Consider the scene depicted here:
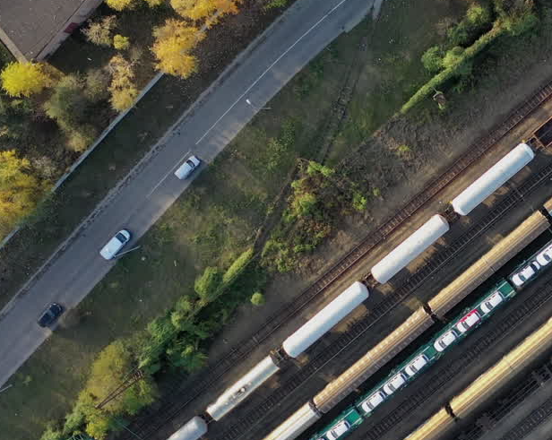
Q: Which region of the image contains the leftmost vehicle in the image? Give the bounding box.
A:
[36,302,63,328]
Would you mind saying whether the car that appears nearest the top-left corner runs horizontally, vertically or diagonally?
diagonally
